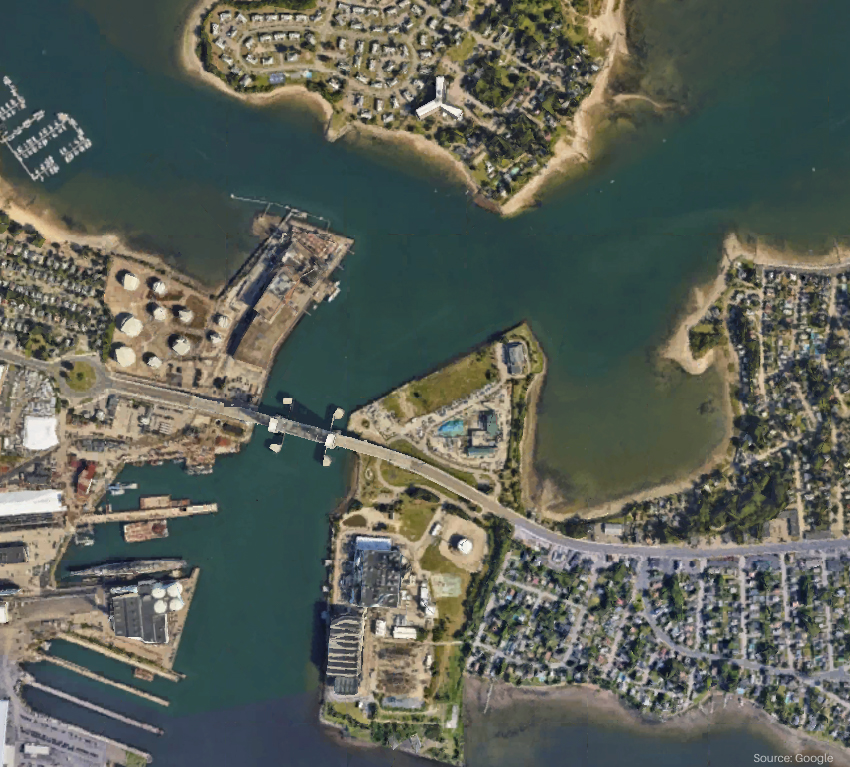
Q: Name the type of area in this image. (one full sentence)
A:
This image shows a port.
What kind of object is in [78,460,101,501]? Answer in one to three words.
building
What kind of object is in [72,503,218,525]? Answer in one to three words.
pier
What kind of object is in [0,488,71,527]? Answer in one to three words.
building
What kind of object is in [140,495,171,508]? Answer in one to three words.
ship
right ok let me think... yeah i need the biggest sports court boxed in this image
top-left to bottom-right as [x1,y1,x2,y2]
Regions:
[431,574,461,596]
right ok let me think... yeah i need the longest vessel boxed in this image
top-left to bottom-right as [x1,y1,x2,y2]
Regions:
[71,559,188,577]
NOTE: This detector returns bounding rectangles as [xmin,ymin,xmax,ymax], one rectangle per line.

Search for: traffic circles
[57,352,105,399]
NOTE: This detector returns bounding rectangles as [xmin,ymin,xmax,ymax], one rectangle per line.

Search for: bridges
[105,377,502,515]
